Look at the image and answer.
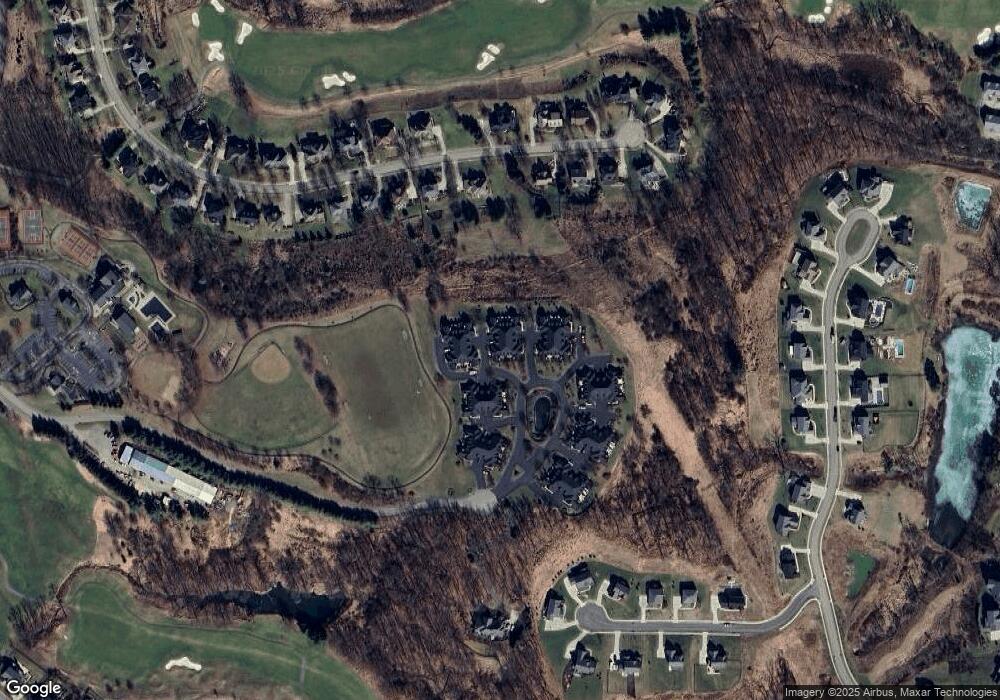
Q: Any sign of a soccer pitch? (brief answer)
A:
Yes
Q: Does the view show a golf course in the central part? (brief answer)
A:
No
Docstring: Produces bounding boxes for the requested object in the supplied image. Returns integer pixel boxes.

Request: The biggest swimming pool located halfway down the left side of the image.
[137,292,176,324]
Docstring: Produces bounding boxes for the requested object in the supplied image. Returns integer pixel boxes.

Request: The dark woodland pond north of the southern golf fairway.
[171,585,349,642]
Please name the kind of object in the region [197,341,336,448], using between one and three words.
baseball field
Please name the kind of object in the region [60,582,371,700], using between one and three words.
golf course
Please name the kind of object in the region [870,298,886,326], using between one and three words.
swimming pool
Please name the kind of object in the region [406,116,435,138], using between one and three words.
house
